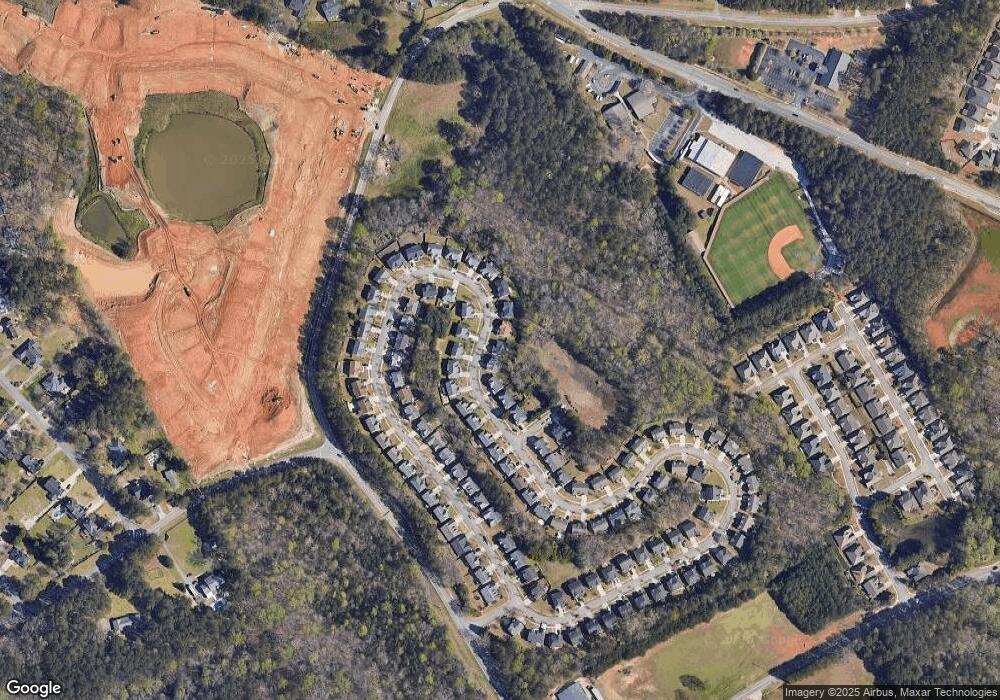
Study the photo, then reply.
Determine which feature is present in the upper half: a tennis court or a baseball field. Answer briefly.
baseball field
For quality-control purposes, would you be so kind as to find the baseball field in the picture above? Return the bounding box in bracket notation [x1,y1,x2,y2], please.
[704,172,826,308]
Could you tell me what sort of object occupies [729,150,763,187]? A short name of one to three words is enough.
building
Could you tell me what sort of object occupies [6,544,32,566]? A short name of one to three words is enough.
house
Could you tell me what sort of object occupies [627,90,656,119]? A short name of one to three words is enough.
building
